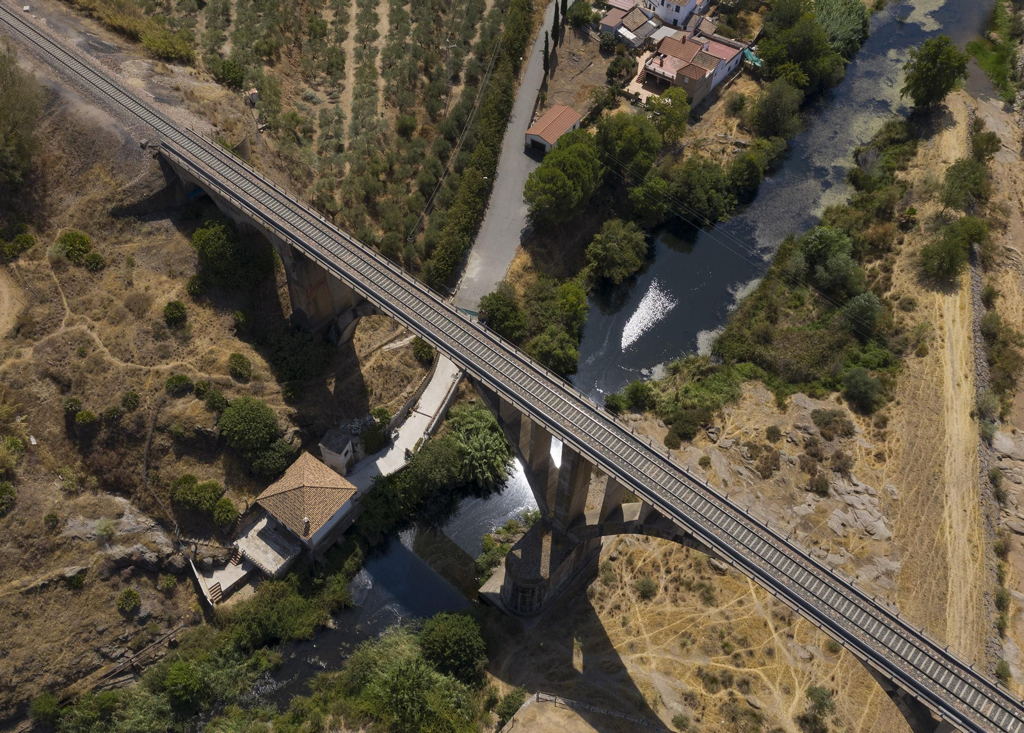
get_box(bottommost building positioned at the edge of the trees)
[256,452,364,555]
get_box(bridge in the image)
[139,112,1024,733]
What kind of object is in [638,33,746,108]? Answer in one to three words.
house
